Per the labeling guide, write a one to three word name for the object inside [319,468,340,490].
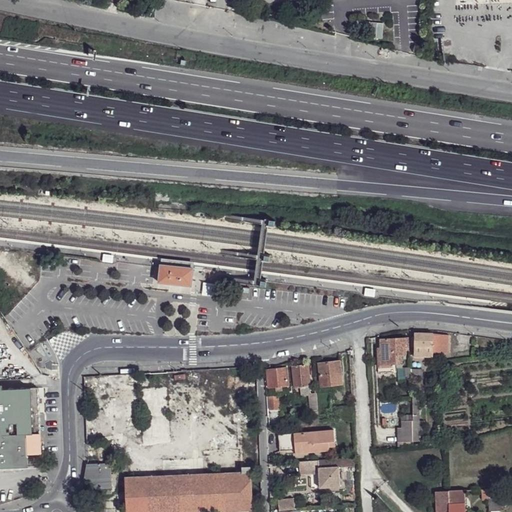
house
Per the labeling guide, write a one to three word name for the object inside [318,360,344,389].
house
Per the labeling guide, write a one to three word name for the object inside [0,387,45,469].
building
